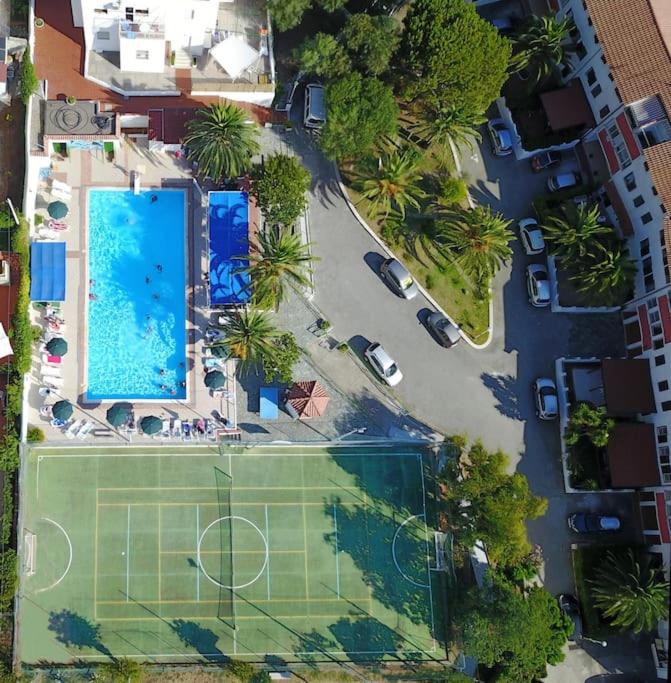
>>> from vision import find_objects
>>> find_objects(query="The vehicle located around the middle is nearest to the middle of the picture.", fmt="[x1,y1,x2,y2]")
[363,341,404,388]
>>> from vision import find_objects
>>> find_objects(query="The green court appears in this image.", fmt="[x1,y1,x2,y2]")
[21,443,447,662]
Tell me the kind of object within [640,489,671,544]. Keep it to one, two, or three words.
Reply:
house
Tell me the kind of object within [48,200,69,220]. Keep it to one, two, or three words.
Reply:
umbrella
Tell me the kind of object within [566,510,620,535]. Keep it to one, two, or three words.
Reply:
car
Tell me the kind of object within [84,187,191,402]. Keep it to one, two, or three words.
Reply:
swimming pool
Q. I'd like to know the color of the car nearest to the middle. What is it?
white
